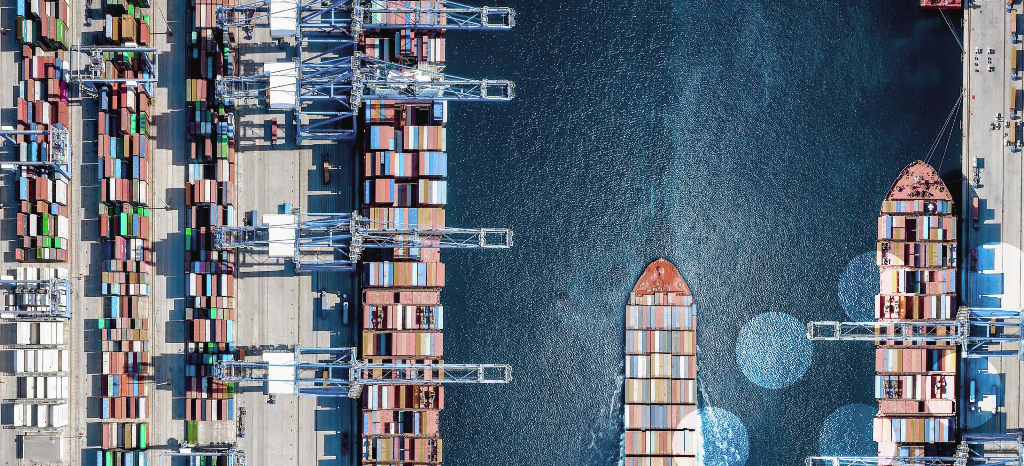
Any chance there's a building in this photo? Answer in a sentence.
Yes, I can see a building in this picture.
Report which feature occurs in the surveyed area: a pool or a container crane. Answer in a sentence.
Visible in the photo is a container crane.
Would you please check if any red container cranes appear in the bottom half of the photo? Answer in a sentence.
No, looking in the bottom half of the photo, there is no red container crane.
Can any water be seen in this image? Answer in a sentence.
Yes, there is water in the image.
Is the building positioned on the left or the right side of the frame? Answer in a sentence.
The building sits on the left side.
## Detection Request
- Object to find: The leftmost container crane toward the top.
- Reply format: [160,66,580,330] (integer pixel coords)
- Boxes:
[0,124,77,179]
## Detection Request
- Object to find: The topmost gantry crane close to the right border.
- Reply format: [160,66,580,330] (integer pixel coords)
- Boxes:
[809,301,1024,362]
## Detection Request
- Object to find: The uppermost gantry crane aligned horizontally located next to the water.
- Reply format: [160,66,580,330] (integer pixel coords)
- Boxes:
[210,0,516,67]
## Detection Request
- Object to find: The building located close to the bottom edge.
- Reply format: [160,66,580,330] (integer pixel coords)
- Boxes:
[19,437,66,461]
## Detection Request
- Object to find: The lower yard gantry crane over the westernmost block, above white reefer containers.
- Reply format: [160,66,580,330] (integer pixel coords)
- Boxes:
[0,276,77,328]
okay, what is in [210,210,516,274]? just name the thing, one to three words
container crane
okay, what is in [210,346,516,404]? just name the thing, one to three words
container crane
